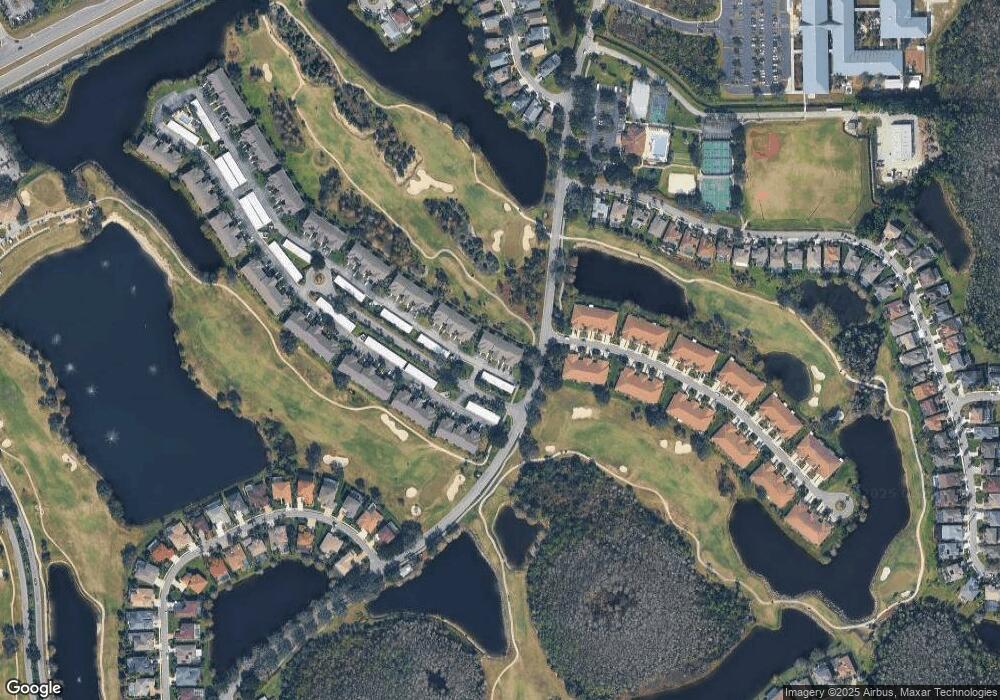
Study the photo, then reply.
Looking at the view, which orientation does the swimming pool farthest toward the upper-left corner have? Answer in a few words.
diagonally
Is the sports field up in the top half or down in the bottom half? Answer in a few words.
top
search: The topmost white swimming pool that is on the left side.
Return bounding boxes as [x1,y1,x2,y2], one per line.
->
[172,110,195,131]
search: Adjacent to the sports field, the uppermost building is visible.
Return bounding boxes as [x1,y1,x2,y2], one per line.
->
[795,0,929,94]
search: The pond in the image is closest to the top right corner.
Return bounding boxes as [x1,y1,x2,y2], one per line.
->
[913,184,971,270]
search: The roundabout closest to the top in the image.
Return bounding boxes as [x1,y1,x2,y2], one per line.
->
[304,267,336,298]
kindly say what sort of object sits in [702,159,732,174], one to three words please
tennis court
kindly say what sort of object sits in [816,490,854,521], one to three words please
roundabout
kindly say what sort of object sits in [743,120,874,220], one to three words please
sports field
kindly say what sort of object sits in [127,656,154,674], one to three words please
house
